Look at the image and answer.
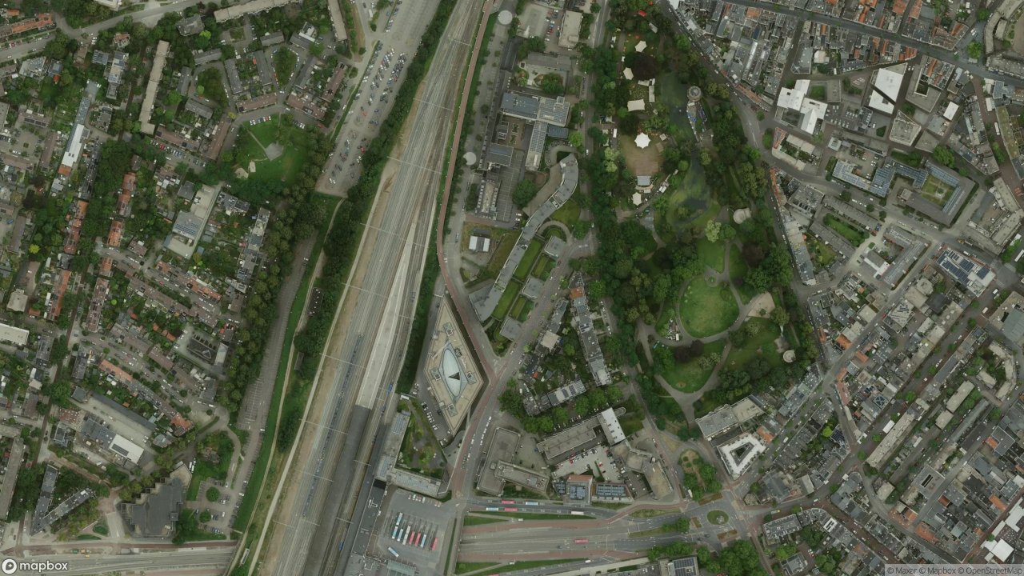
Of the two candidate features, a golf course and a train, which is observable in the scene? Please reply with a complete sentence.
The image shows a train.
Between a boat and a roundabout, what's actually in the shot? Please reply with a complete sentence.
The one in the frame is a roundabout.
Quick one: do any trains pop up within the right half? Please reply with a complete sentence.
No, there's no train to be seen within the right half.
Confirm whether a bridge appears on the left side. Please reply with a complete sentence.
No, there's no bridge to be seen on the left side.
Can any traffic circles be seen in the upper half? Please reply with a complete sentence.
No, no traffic circle is visible in the upper half.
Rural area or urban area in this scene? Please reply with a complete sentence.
It looks urban.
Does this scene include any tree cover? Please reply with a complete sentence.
Yes, the picture does contain tree cover.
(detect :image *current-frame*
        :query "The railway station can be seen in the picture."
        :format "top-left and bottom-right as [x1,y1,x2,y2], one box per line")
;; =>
[344,414,442,576]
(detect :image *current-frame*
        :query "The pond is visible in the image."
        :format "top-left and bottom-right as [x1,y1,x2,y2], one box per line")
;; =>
[664,75,709,221]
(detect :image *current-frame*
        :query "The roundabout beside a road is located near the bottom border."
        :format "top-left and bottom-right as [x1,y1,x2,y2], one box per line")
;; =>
[690,490,750,550]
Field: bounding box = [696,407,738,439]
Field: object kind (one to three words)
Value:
building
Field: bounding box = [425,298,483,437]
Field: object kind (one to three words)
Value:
building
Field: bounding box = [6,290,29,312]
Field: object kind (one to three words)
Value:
house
